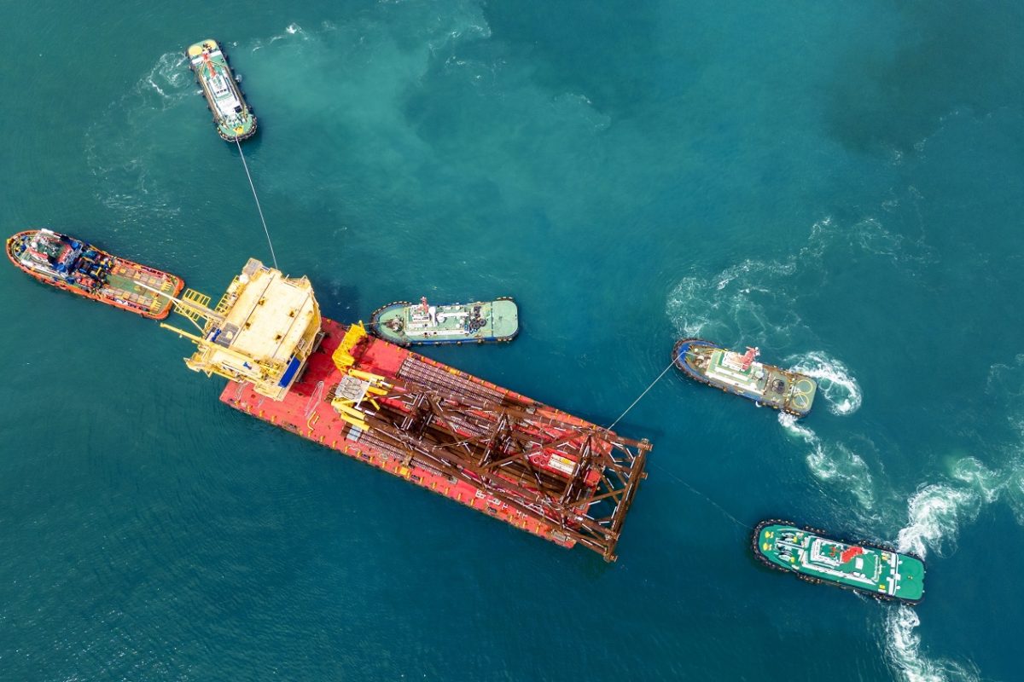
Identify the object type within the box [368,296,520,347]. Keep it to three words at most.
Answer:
boat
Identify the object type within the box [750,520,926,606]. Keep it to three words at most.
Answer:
boat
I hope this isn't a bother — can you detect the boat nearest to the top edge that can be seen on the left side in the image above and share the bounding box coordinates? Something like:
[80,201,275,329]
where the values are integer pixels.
[189,35,256,143]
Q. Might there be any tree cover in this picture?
No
